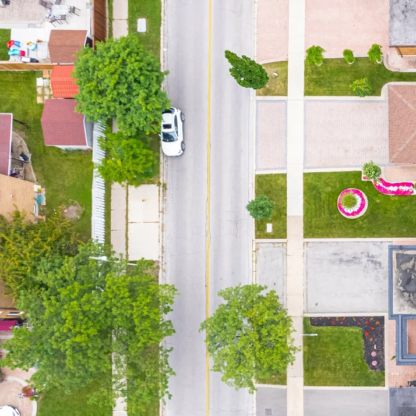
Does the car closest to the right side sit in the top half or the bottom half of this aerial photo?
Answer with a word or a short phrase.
top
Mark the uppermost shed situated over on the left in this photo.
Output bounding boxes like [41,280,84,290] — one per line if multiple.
[45,29,97,66]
